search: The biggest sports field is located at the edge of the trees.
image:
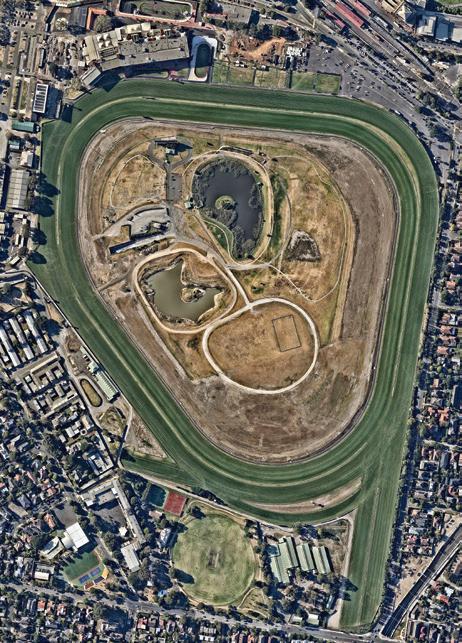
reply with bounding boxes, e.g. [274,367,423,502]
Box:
[62,549,110,592]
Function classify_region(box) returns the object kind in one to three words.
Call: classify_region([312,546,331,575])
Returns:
shed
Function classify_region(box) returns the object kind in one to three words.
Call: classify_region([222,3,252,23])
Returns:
building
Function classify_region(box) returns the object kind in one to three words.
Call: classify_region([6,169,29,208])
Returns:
shed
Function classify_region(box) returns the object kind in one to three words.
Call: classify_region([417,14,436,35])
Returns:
building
